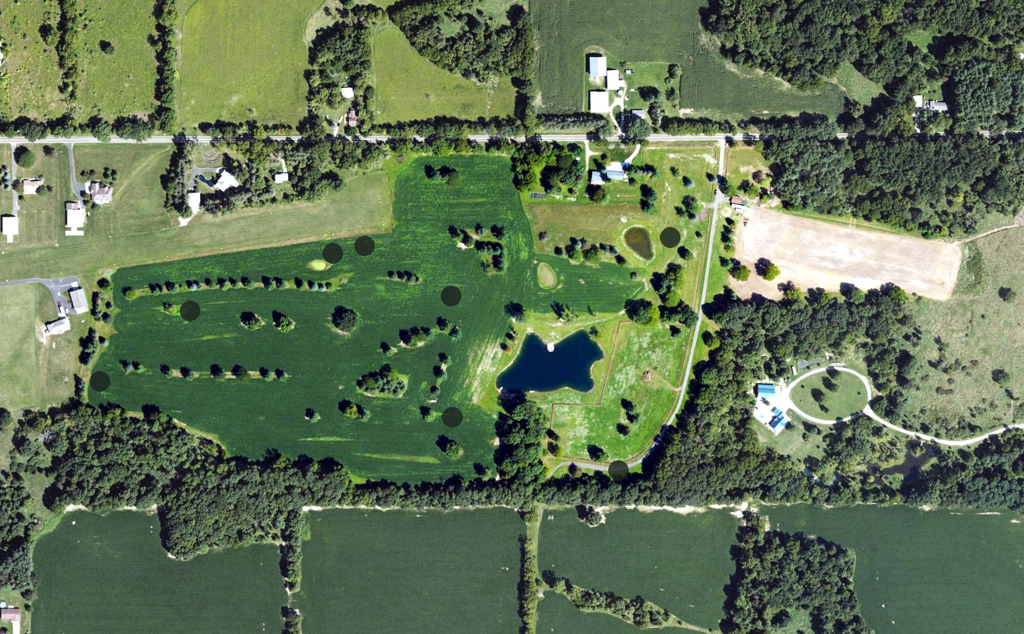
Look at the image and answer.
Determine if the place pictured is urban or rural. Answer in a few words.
rural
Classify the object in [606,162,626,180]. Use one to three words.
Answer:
house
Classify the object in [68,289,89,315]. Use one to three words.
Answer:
barn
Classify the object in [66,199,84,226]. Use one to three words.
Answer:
hangar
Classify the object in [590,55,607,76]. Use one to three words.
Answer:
barn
